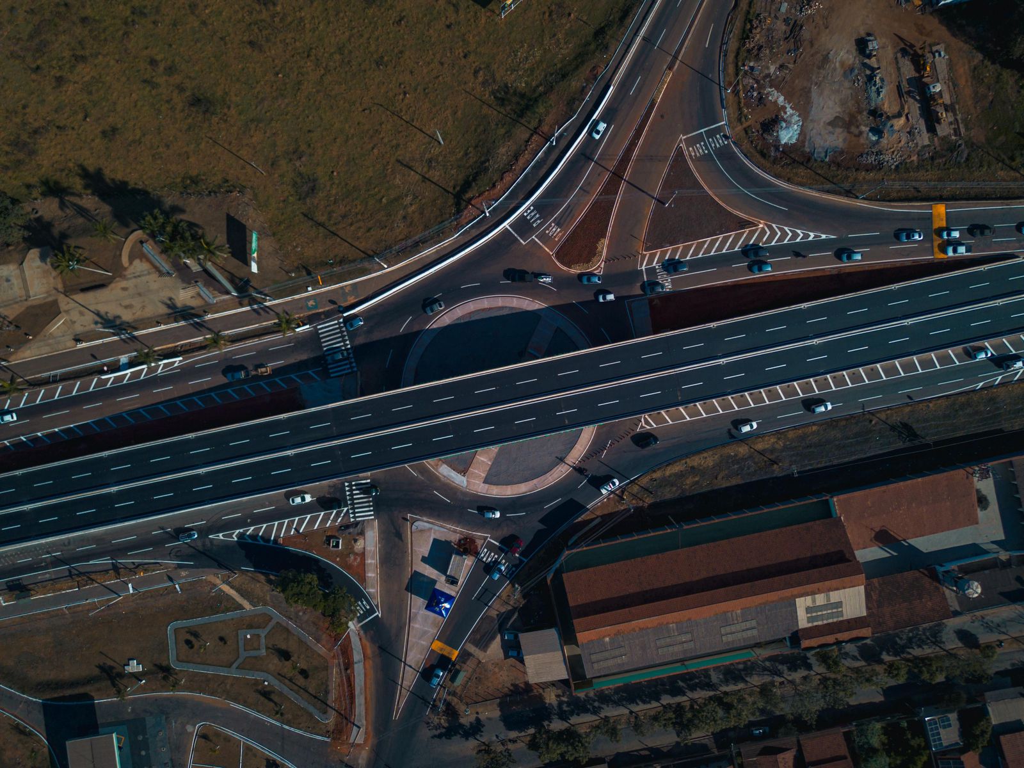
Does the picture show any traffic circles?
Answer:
Yes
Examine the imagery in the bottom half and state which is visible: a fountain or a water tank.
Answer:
water tank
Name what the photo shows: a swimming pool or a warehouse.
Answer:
warehouse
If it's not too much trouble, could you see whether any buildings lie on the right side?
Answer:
Yes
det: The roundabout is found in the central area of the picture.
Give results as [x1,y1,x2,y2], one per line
[398,294,595,497]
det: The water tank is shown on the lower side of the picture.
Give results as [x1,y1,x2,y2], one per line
[924,563,981,597]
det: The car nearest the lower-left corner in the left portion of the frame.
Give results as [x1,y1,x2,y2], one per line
[178,530,199,542]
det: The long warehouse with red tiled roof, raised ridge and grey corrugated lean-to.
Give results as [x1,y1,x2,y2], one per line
[562,513,872,678]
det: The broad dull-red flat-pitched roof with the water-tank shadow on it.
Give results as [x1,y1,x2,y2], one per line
[826,468,979,551]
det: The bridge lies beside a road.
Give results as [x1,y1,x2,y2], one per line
[0,256,1024,551]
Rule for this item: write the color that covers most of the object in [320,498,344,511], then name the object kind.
black vehicle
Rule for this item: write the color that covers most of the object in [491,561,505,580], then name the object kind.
blue car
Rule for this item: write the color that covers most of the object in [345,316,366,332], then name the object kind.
blue car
